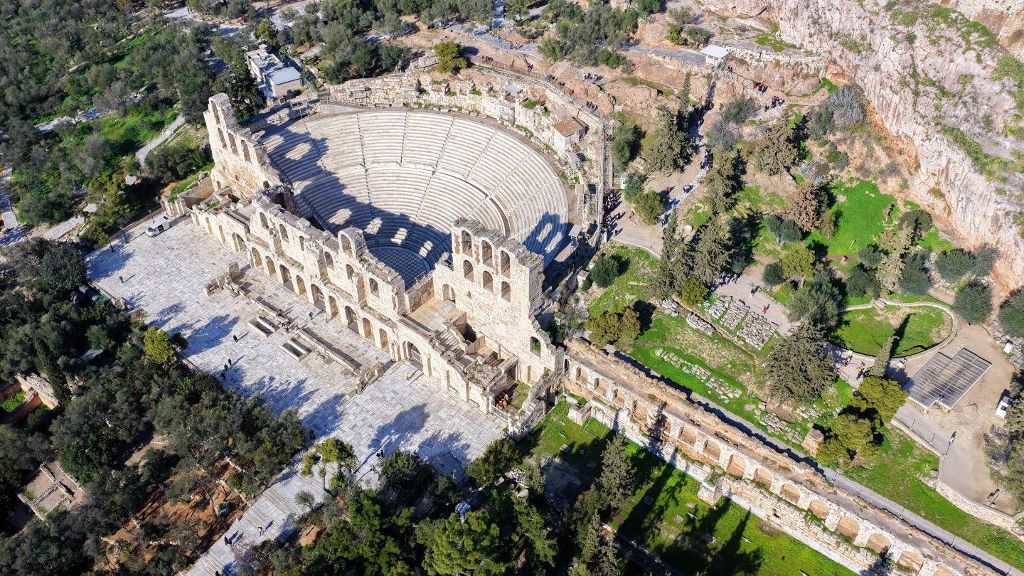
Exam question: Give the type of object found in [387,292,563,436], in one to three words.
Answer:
building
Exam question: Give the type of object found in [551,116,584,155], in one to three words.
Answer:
house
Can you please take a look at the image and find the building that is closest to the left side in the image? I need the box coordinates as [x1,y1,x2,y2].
[182,186,255,259]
